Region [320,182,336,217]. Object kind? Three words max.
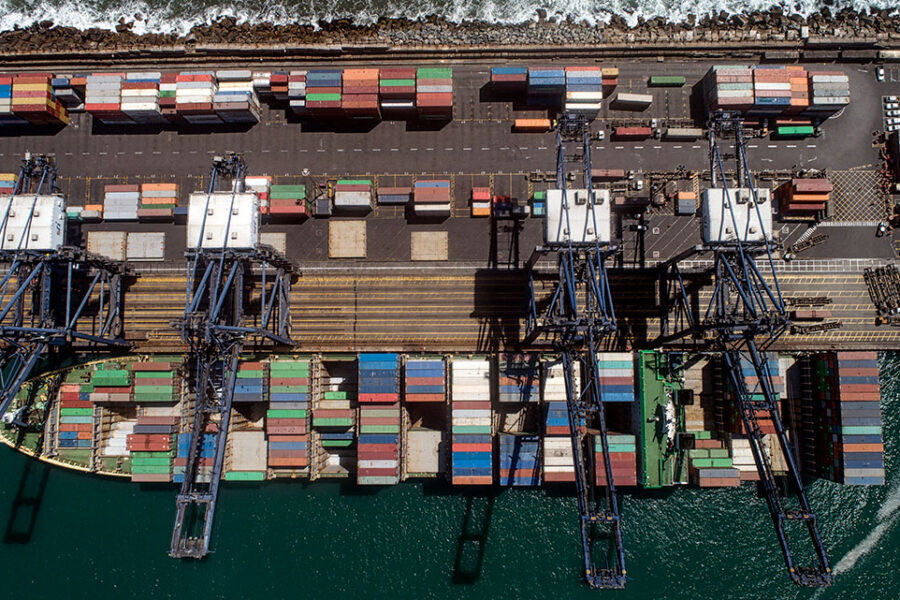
work vehicle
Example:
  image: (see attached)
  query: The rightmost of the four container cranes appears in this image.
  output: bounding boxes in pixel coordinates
[640,108,836,591]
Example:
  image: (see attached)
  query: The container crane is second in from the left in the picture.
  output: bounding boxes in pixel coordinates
[165,148,312,554]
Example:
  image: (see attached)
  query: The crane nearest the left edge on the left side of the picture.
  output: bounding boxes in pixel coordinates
[0,150,152,403]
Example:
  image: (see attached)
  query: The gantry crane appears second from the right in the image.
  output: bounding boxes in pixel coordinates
[515,110,628,591]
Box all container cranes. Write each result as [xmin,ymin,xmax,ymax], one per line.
[640,108,836,591]
[515,110,628,591]
[0,150,152,403]
[165,148,312,554]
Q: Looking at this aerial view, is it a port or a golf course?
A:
port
